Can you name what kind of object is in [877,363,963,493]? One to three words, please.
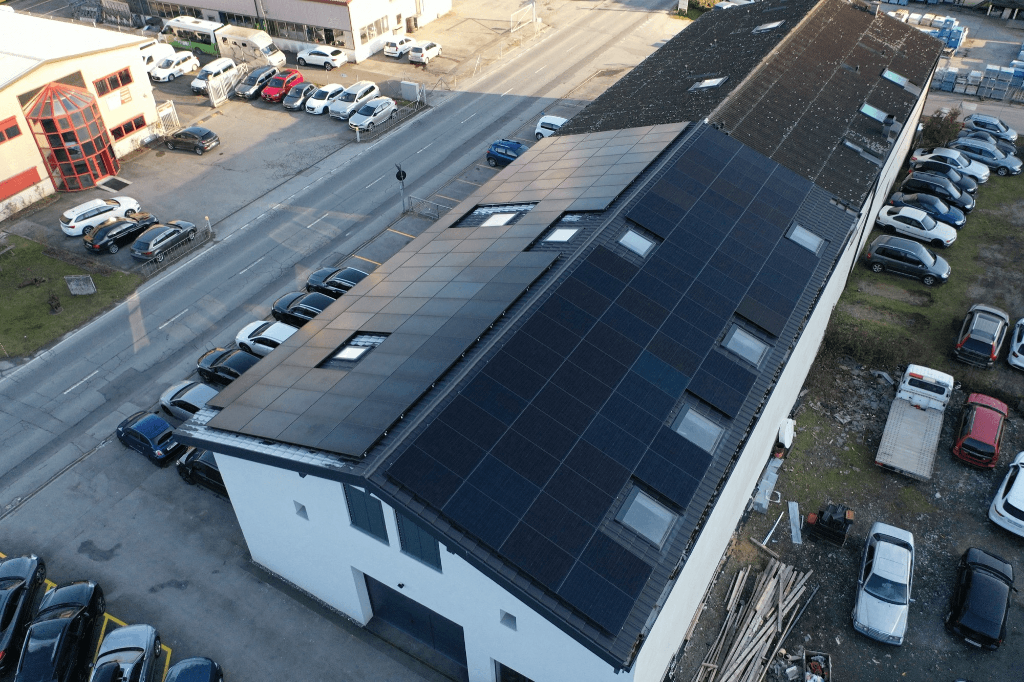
truck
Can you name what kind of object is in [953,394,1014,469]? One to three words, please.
car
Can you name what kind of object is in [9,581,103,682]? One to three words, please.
car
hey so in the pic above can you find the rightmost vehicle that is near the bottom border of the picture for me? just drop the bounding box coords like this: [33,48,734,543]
[948,547,1022,650]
